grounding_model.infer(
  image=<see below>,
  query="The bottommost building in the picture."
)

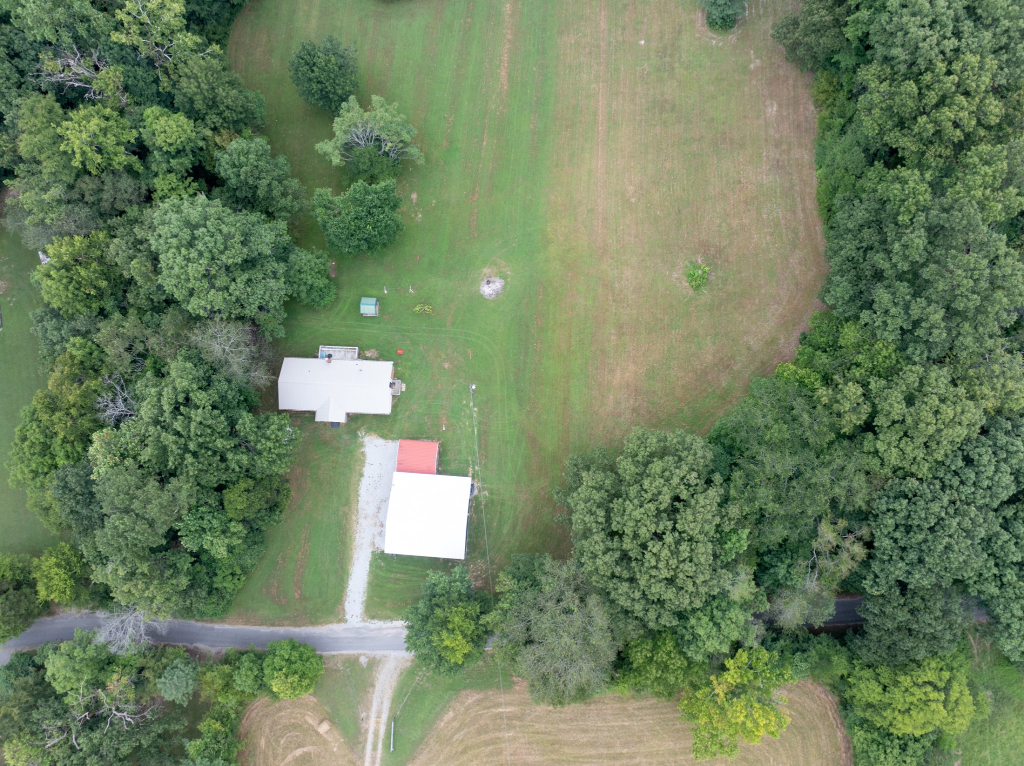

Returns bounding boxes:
[386,472,472,559]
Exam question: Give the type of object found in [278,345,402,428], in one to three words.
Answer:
house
